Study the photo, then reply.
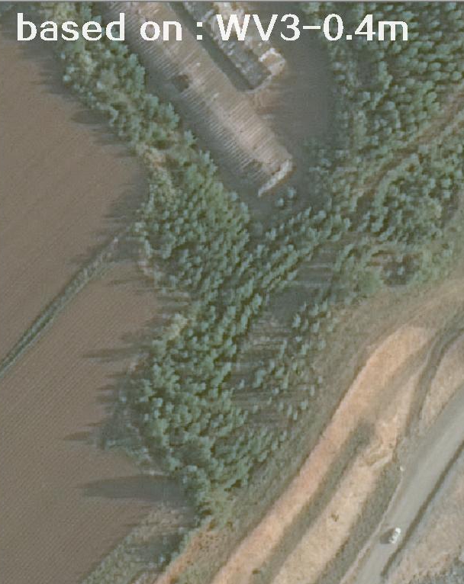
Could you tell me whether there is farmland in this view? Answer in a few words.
Yes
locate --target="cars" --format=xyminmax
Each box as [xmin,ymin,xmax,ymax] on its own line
[387,527,400,543]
